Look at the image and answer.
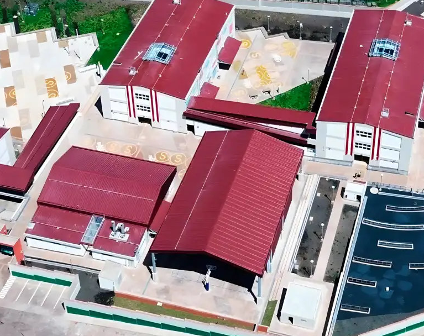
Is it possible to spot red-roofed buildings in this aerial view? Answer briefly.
Yes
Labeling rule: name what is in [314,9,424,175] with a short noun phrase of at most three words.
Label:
building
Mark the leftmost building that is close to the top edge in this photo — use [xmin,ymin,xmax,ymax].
[97,0,242,131]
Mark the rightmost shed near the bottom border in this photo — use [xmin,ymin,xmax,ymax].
[276,282,326,334]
